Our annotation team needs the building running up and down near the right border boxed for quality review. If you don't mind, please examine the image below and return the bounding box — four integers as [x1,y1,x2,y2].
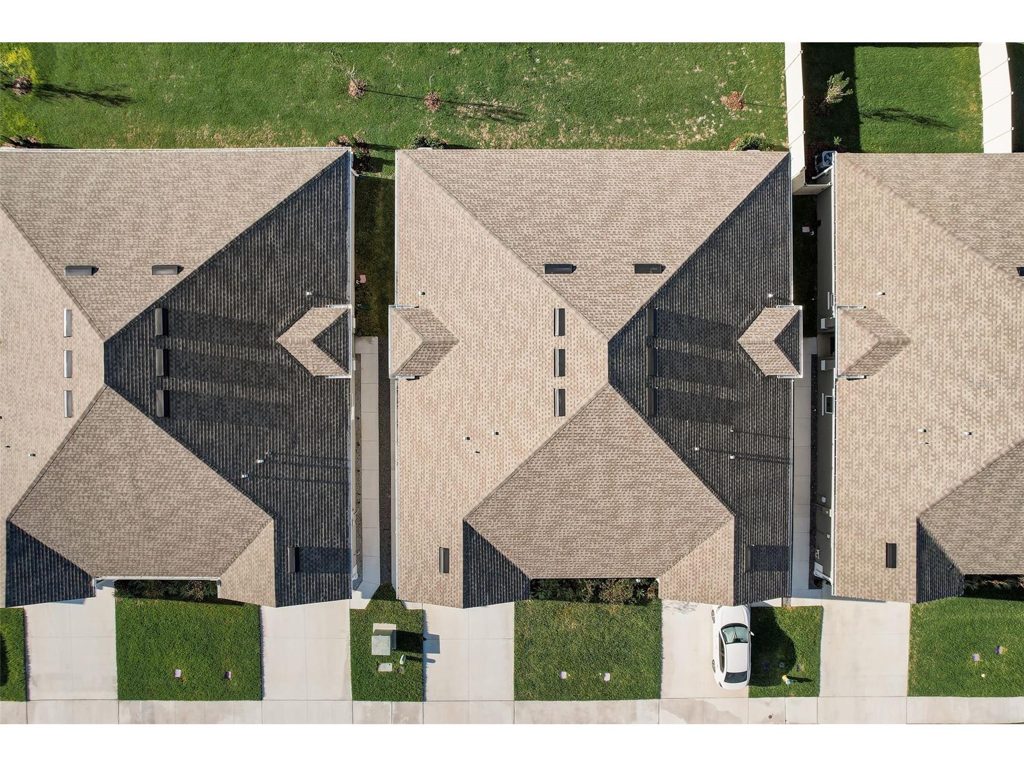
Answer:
[812,152,1024,603]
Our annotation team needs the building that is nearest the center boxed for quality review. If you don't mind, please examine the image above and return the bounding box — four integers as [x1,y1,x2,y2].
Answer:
[388,148,806,608]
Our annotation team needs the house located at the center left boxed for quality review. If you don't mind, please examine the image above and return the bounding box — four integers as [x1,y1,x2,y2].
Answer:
[0,148,361,607]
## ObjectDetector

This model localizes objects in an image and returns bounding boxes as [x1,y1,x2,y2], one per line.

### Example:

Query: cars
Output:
[712,605,756,691]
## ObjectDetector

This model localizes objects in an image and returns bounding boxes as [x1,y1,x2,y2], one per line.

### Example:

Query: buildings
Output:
[388,148,806,608]
[0,148,361,607]
[812,152,1024,603]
